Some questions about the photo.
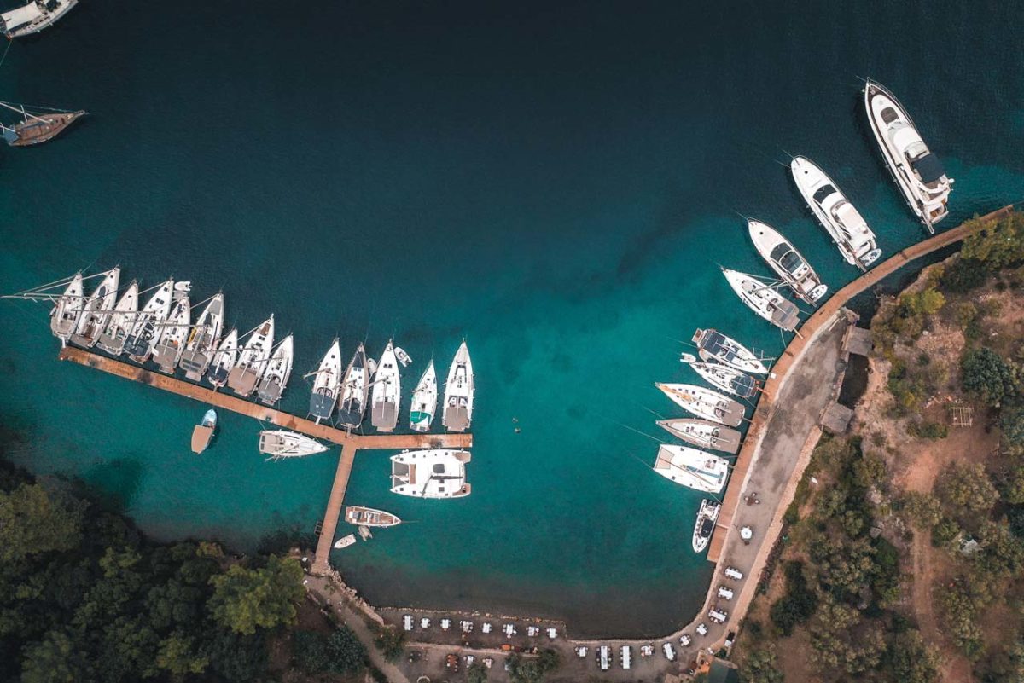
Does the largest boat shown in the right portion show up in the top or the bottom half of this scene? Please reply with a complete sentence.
Seen from above, the largest boat shown in the right portion lies in the top half of the view.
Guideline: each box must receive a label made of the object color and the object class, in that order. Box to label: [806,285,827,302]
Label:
white boat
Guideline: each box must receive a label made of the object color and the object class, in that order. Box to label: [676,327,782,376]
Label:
white boat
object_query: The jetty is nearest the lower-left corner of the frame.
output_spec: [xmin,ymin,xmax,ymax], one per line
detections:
[59,346,472,575]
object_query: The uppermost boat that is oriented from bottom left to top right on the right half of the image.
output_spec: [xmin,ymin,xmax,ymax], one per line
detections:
[860,249,883,265]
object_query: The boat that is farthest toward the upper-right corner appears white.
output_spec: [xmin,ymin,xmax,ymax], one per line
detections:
[857,75,961,234]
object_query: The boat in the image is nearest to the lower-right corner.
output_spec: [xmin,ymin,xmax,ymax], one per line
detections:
[695,500,719,554]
